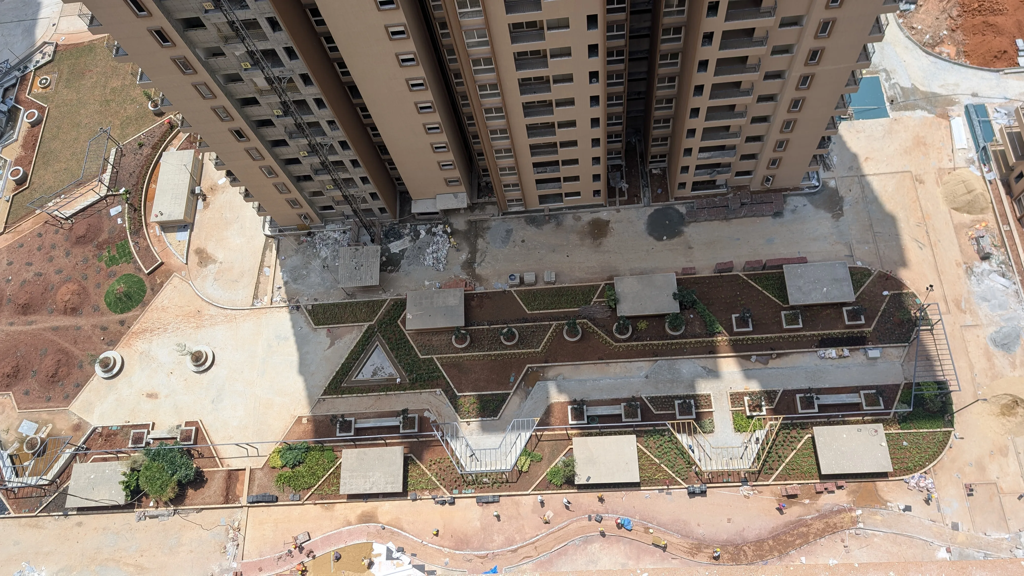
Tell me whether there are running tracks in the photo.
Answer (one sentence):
Yes, the frame does contain a running track.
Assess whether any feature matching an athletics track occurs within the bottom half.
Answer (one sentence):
Yes, an athletics track is visible within the bottom half.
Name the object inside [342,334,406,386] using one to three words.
pond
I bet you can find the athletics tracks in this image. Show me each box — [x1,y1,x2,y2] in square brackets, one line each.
[234,507,857,575]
